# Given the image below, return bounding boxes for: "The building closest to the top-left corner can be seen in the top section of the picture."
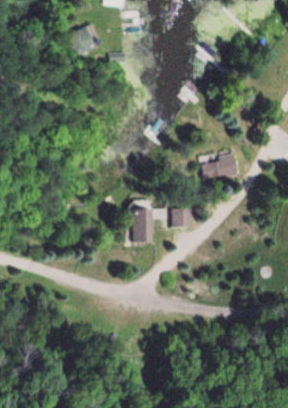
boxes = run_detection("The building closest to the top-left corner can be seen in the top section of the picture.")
[72,24,100,53]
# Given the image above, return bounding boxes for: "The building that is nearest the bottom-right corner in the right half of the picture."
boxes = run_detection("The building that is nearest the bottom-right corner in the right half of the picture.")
[171,208,191,226]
